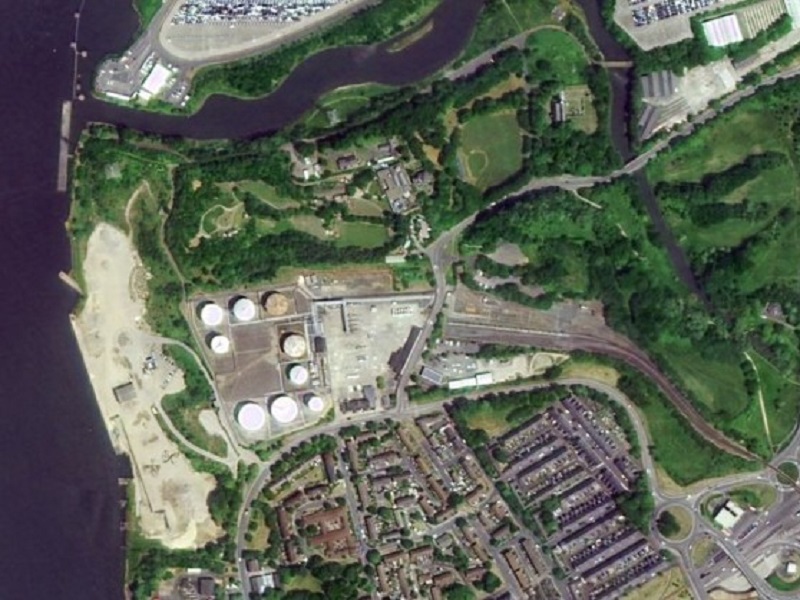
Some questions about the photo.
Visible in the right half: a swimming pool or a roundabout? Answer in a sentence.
There is a roundabout in the right half.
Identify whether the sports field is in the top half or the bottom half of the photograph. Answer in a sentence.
The sports field sits in the top half of the picture.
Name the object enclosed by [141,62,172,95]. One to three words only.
building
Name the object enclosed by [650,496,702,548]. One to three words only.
roundabout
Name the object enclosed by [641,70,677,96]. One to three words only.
shed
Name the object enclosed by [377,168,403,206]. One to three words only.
building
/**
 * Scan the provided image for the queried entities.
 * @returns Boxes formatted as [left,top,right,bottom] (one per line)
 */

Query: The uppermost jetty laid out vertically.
[58,101,71,191]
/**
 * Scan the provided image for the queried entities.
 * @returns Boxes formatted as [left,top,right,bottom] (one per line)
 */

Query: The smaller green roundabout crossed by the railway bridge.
[770,455,800,491]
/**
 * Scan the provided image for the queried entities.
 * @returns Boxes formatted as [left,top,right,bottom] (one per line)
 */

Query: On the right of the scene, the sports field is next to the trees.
[459,108,522,191]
